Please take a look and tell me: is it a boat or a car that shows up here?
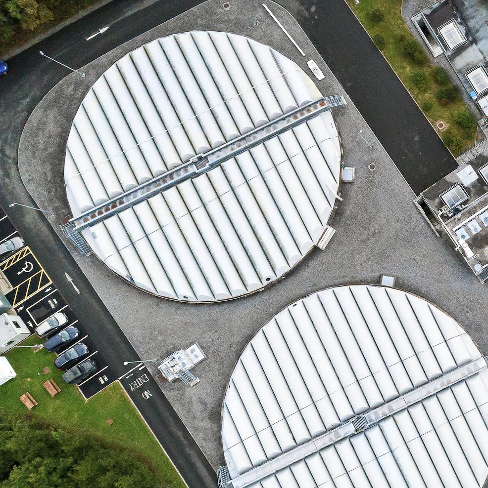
car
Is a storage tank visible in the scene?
Yes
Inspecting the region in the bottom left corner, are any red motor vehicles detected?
No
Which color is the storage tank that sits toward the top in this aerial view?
white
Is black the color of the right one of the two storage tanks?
No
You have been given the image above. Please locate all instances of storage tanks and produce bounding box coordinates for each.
[216,275,488,488]
[59,24,357,306]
